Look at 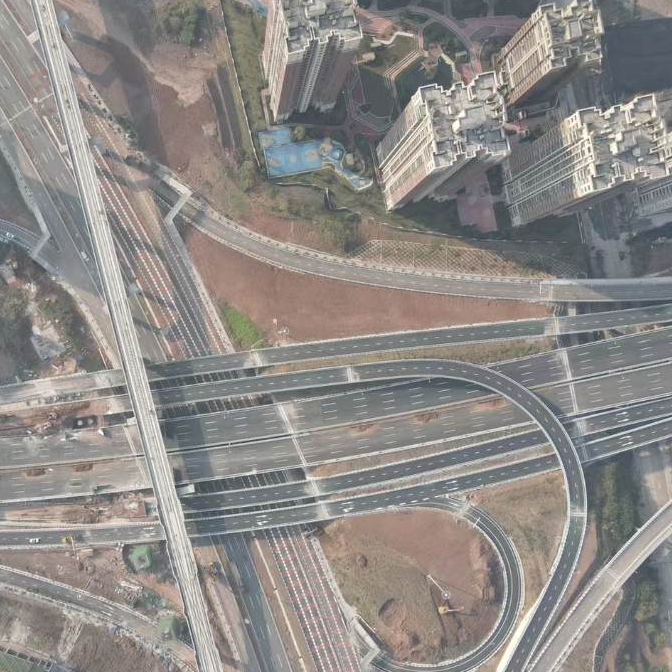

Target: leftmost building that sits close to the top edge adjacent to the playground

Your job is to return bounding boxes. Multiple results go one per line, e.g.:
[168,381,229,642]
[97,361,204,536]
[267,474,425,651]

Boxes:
[265,0,363,125]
